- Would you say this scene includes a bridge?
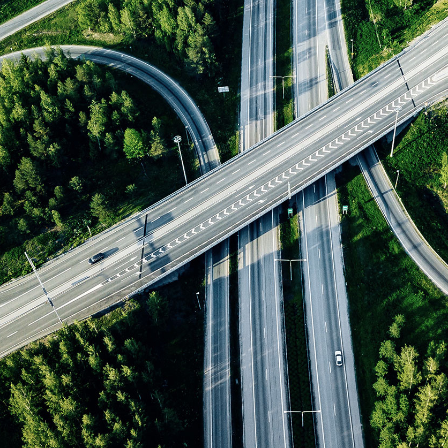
Yes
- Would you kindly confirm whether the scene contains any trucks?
No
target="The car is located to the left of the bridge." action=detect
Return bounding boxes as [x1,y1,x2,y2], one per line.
[86,250,103,264]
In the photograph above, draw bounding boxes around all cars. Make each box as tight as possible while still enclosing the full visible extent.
[333,350,343,367]
[86,250,103,264]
